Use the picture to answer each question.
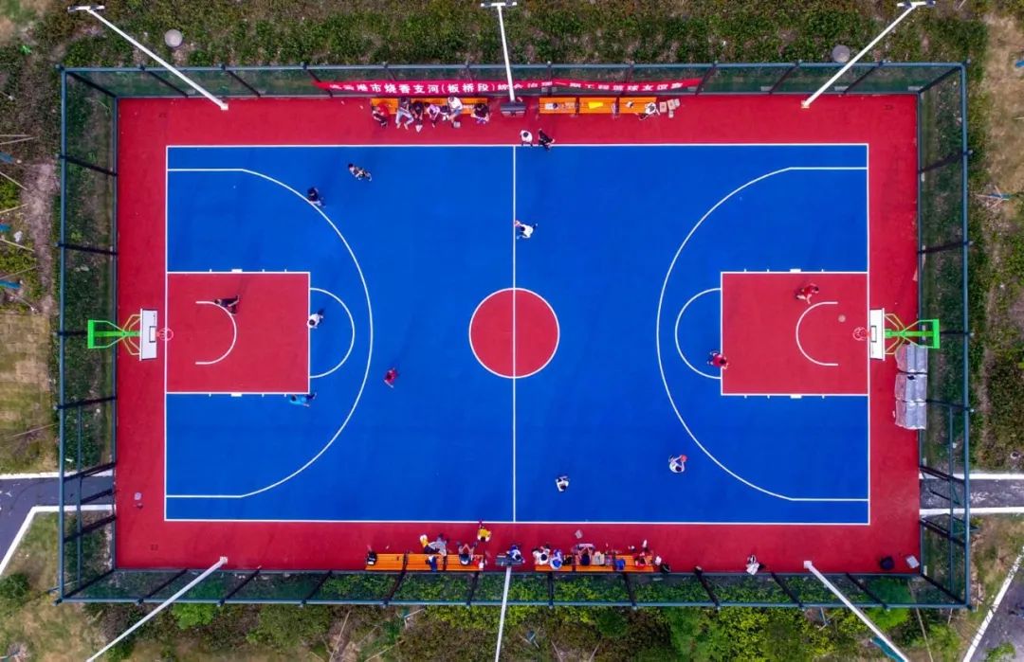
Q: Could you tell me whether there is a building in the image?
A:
No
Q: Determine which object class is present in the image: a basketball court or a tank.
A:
basketball court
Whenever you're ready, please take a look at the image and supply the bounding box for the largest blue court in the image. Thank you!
[114,93,921,575]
